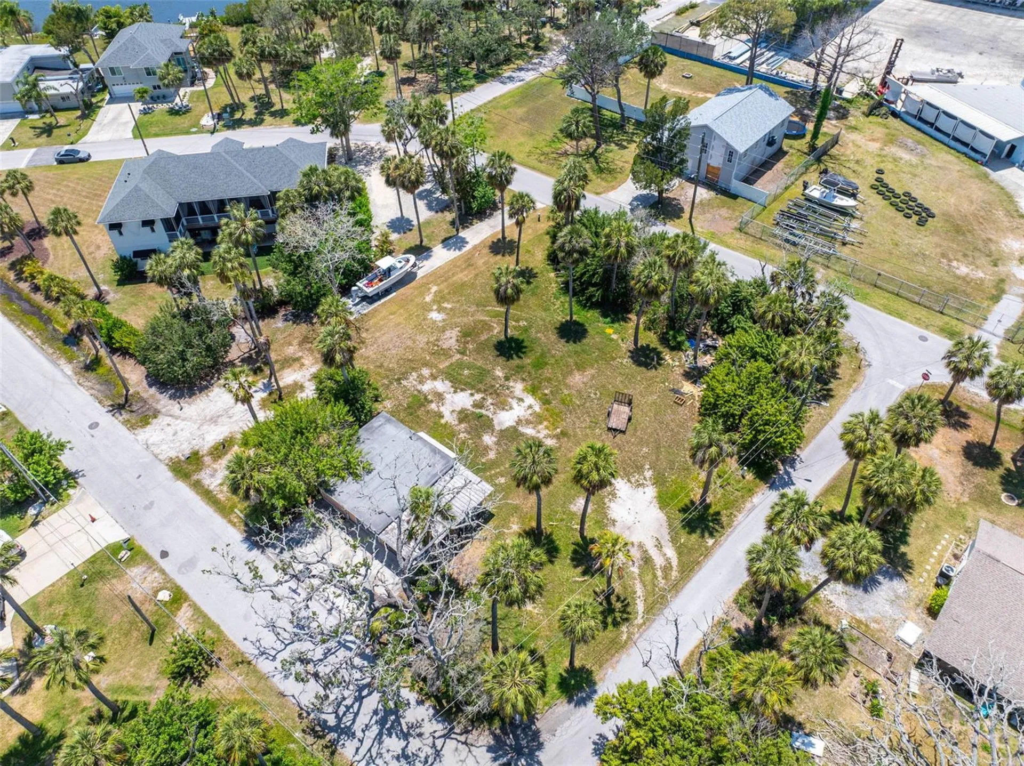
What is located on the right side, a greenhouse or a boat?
boat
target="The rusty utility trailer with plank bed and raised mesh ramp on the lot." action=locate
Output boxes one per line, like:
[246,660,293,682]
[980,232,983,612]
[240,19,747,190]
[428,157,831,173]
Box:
[605,391,634,441]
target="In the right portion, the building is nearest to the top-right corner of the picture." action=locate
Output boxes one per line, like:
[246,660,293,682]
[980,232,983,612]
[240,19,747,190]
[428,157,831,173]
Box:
[886,69,1024,166]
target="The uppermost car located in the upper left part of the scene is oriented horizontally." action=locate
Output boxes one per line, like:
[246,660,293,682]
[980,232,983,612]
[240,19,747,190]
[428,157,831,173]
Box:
[49,146,92,162]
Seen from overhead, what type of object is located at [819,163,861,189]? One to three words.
boat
